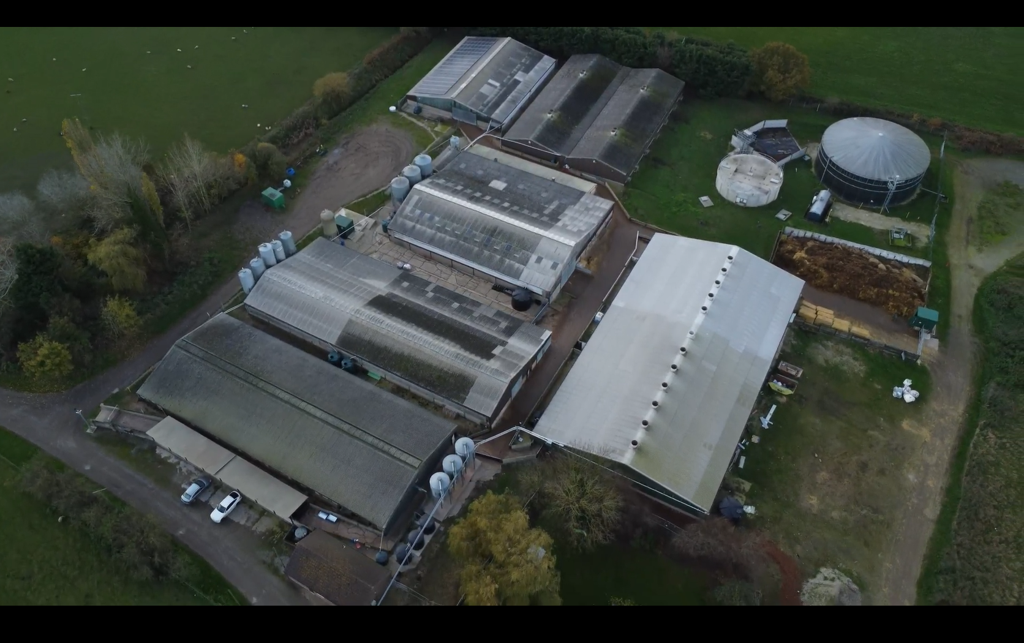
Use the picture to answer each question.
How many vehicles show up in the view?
two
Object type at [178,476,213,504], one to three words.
car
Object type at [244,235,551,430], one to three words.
barn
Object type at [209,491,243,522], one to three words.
car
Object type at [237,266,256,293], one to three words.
silo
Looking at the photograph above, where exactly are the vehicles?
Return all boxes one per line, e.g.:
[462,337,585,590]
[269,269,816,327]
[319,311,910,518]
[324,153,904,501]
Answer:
[209,491,243,522]
[178,476,213,504]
